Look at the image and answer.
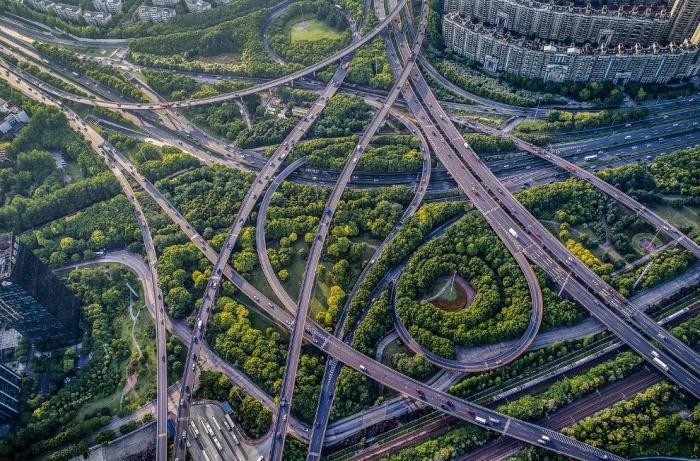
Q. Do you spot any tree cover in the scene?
Yes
